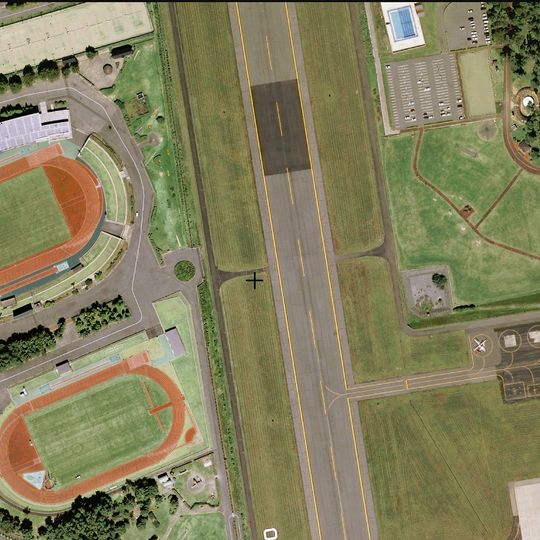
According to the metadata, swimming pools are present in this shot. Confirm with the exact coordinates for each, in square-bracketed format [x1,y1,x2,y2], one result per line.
[381,0,425,52]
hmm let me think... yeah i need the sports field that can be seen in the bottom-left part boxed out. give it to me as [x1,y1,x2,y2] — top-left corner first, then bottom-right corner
[26,374,172,489]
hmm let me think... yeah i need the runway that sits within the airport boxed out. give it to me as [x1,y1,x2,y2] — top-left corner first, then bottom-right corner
[236,0,371,540]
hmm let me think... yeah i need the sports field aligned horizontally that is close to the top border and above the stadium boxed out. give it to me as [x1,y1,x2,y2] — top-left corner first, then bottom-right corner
[0,0,153,74]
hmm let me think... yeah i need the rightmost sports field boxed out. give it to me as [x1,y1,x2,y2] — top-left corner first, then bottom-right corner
[458,49,496,119]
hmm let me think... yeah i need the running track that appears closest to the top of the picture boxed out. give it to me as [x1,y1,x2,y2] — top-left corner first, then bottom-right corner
[0,143,103,294]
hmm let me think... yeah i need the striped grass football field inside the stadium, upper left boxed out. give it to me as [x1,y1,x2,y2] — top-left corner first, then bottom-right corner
[0,166,71,266]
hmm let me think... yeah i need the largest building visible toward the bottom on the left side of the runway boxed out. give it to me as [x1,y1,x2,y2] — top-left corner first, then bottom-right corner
[166,327,185,357]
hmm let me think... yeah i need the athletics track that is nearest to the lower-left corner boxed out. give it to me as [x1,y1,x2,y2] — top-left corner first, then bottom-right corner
[0,352,202,503]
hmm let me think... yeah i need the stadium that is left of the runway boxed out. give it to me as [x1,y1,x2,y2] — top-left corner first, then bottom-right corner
[0,102,134,326]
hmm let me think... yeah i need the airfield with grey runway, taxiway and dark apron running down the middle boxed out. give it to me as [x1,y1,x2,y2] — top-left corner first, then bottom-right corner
[227,0,540,540]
